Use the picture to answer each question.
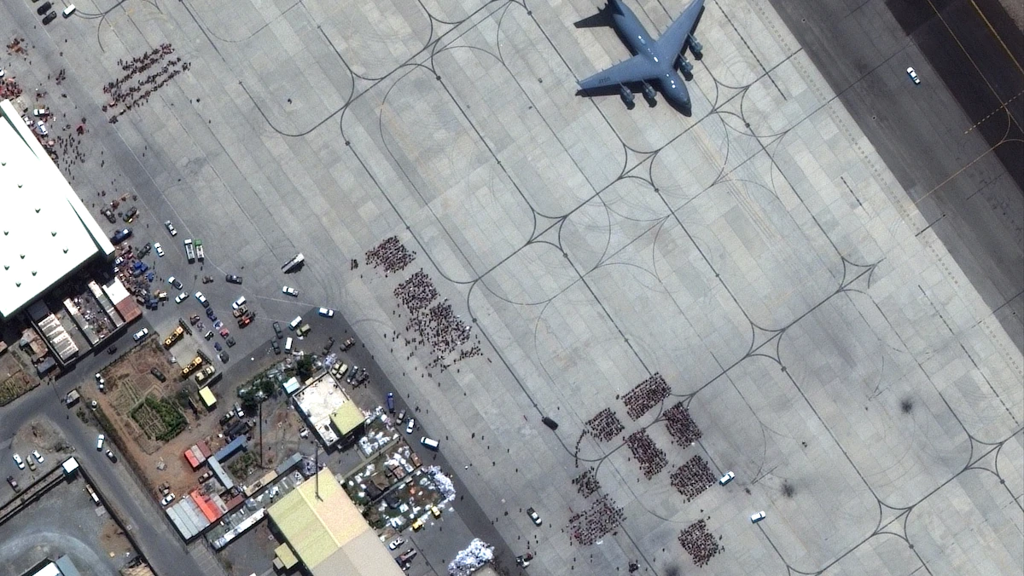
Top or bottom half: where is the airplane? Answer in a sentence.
It is in the top half that the airplane appears.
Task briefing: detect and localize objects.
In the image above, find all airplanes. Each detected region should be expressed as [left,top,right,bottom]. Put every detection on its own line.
[575,0,711,110]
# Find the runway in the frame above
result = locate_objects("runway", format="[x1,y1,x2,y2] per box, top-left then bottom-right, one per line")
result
[889,0,1024,192]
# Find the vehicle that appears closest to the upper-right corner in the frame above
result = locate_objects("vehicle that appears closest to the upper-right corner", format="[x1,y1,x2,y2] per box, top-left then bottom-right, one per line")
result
[907,67,921,84]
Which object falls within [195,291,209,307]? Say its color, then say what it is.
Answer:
white car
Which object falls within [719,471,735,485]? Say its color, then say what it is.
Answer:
white vehicle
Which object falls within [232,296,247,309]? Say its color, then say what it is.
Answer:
white vehicle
